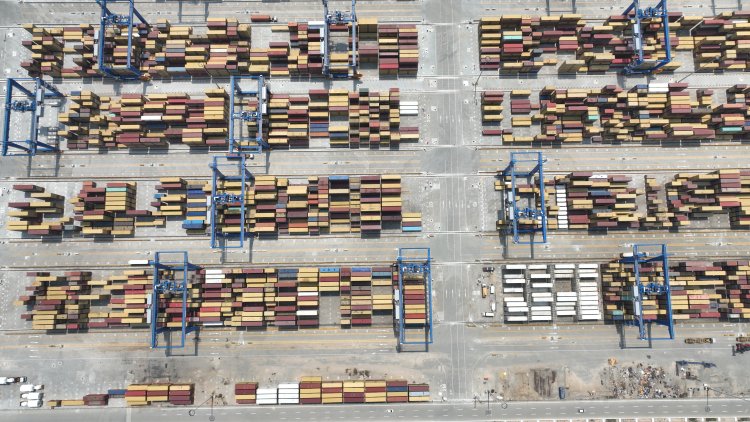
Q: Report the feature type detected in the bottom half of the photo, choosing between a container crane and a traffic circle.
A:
container crane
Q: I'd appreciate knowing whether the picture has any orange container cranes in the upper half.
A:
No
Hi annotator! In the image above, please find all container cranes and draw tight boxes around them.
[229,76,273,153]
[95,0,152,80]
[617,0,671,75]
[392,248,434,344]
[0,78,65,156]
[320,0,361,78]
[207,156,256,248]
[147,252,204,347]
[613,245,675,340]
[497,152,548,243]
